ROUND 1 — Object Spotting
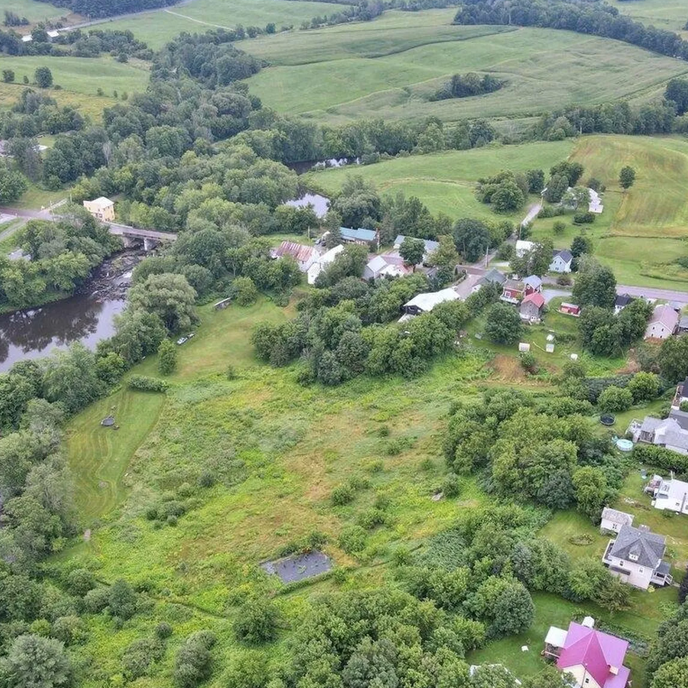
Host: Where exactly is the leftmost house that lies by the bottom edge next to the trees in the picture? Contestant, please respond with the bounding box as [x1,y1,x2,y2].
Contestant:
[543,621,634,688]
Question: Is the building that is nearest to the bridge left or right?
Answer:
left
